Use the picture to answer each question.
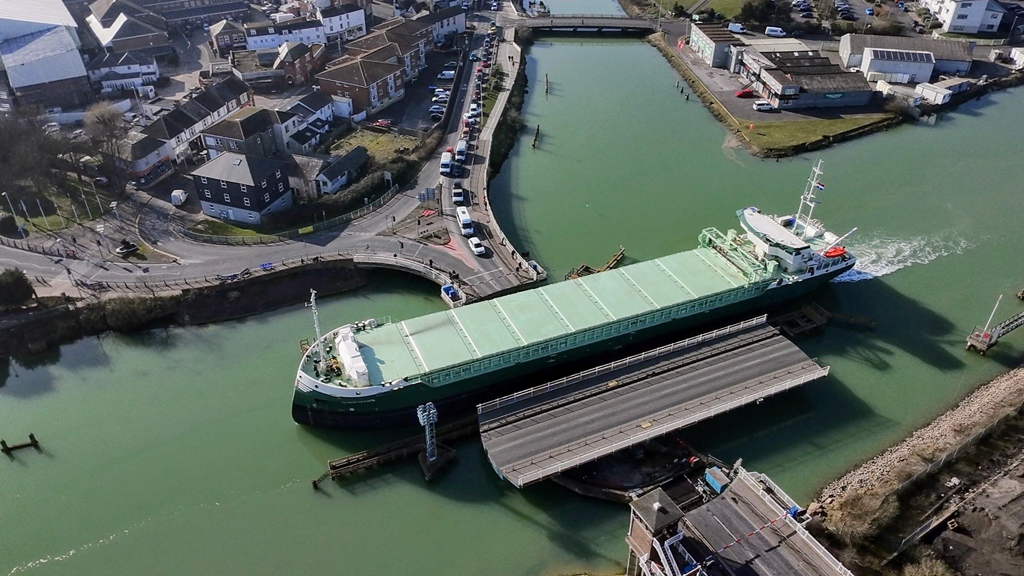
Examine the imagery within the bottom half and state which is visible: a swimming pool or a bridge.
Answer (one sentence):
Visible within the bottom half is a bridge.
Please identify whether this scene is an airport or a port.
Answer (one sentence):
This image shows a port.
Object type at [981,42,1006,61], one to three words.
shed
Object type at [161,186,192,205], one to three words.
vehicle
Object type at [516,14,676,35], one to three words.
bridge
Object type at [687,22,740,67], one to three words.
building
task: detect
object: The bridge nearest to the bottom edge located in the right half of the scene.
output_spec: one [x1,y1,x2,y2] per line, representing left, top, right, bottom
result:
[476,315,831,492]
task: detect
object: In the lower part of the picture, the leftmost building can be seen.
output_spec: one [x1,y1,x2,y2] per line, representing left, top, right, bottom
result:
[621,489,684,576]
